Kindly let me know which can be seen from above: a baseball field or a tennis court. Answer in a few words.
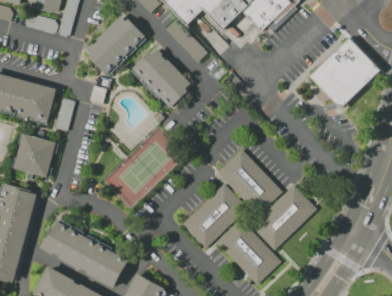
tennis court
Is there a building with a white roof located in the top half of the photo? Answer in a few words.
Yes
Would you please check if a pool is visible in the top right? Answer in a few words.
No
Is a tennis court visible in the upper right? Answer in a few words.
No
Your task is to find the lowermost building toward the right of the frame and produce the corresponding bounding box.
[216,224,283,284]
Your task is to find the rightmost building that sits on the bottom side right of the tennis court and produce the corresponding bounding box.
[256,186,318,251]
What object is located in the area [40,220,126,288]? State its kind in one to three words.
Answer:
building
